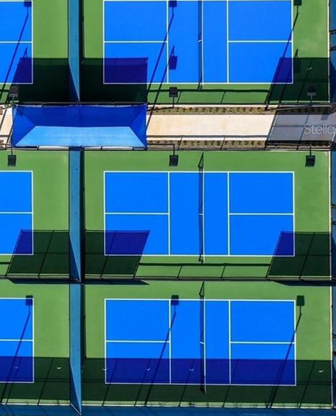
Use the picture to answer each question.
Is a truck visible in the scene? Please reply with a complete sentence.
No, I can't see a single truck in this photo.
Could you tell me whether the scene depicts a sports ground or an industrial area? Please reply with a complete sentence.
It's a sports ground.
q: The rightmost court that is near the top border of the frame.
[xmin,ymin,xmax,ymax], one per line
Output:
[81,0,328,102]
